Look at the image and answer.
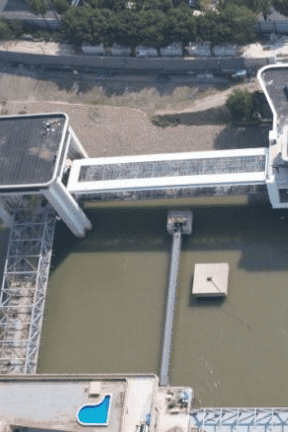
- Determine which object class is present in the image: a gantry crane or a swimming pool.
swimming pool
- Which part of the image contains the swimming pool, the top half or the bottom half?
bottom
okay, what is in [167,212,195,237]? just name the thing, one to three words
pier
